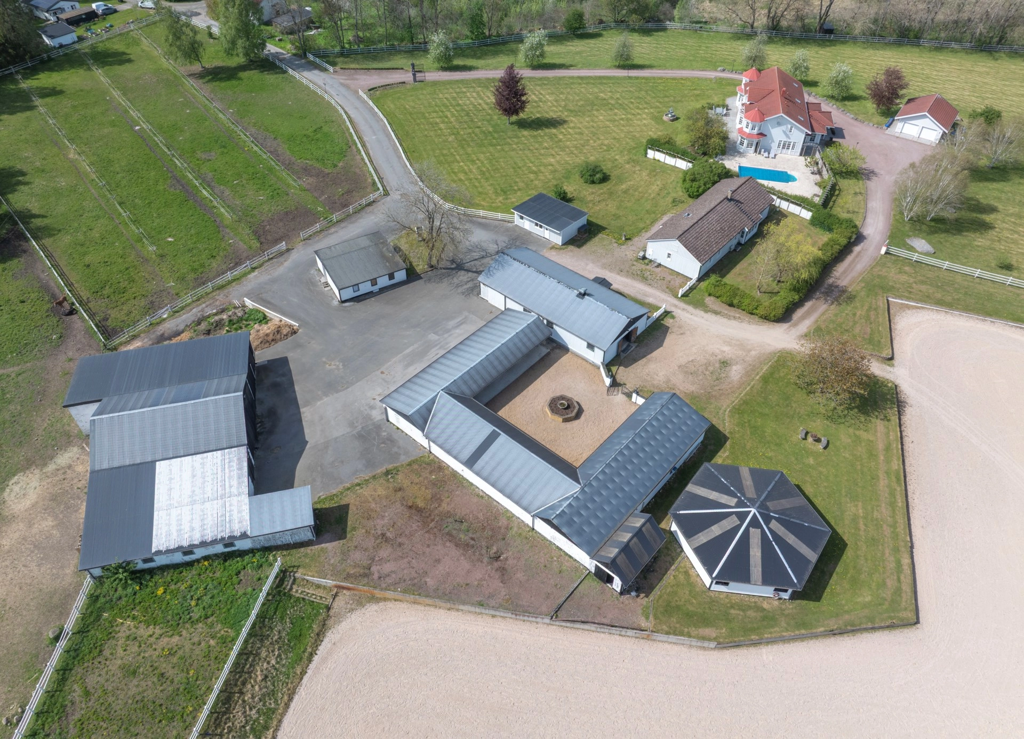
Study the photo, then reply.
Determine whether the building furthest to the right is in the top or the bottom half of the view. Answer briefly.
top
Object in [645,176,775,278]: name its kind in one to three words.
house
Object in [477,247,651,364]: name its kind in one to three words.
barn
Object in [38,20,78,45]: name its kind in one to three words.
shed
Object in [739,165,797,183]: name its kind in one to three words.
swimming pool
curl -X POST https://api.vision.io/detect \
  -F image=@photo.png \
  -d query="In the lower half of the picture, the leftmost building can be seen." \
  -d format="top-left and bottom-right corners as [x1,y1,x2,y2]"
[58,330,257,585]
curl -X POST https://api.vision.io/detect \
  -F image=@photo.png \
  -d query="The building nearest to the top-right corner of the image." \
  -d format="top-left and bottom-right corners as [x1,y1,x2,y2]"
[895,93,959,141]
